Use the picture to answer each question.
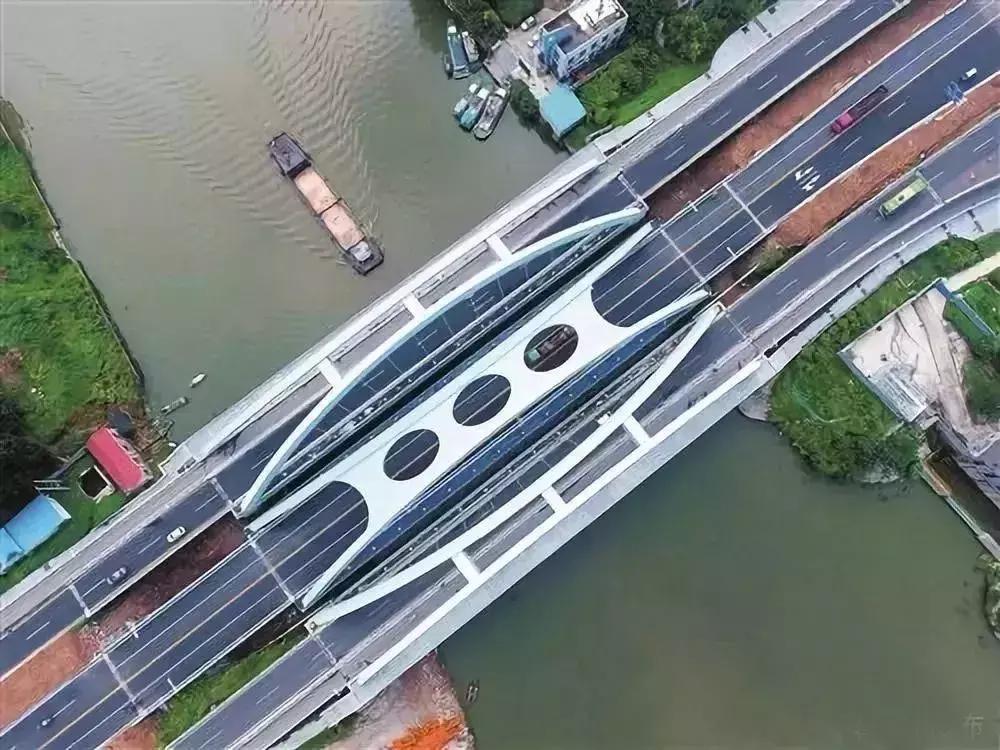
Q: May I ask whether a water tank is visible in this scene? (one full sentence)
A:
Yes, a water tank can be made out from above.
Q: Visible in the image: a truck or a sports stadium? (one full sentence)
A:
Of the two, only a truck appears.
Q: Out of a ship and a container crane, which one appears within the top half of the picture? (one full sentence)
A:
What appears within the top half of the picture is a ship.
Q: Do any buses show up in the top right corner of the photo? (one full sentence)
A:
Yes, I can see a bus in the top right corner of the photo.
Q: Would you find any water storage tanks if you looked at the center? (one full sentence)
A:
No, no water storage tank can be made out at the center.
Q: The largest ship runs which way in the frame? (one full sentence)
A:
Seen from above, the largest ship lies diagonally.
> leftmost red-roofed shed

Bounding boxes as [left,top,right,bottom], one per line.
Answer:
[87,426,157,492]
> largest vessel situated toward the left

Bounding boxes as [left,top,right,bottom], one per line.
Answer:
[266,127,378,275]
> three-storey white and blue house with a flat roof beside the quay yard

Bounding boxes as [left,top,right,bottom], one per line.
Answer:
[542,0,628,78]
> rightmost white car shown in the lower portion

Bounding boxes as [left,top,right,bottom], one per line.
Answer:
[164,523,188,544]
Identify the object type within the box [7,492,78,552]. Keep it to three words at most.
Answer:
shed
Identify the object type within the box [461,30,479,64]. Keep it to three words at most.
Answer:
boat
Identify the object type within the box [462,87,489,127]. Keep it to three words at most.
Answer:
boat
